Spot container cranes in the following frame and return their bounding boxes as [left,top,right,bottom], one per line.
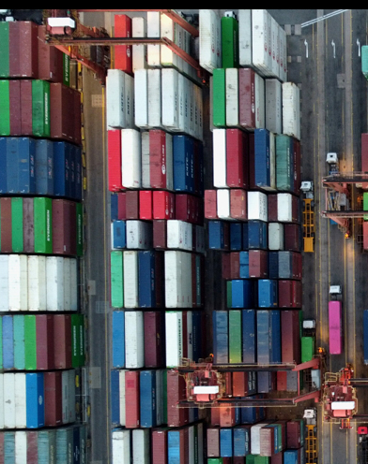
[32,0,208,90]
[167,346,327,410]
[315,360,368,427]
[313,167,368,241]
